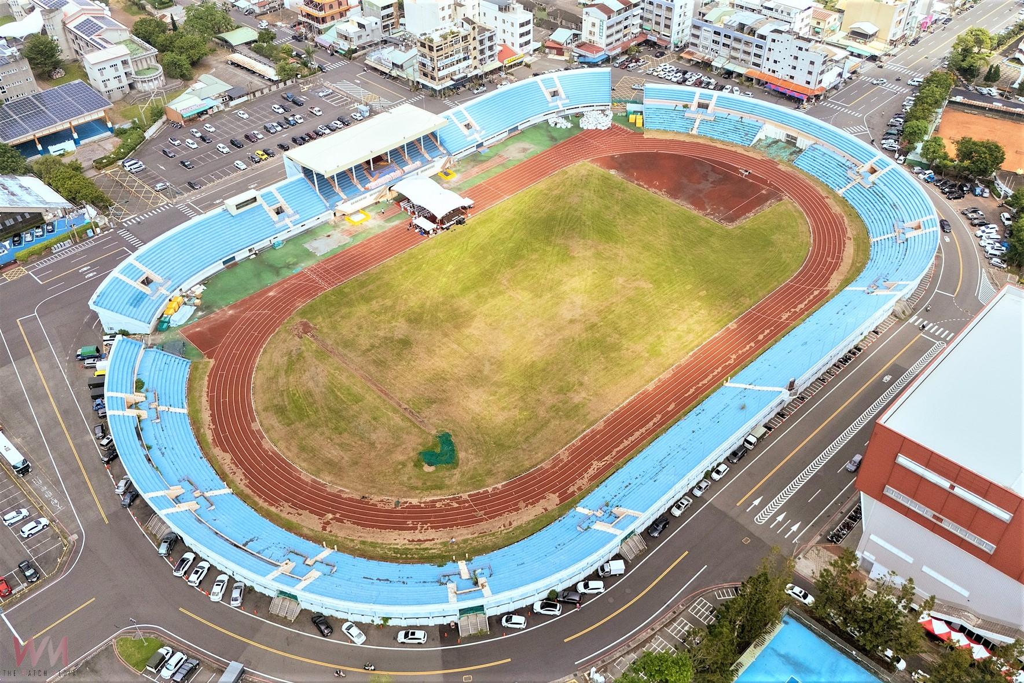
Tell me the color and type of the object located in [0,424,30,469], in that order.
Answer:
white bus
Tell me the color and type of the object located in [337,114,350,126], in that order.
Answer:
gray vehicle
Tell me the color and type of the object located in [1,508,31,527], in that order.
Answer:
white car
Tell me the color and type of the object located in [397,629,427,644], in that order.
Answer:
white car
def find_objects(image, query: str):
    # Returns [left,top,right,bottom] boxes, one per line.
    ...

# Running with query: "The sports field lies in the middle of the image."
[251,153,811,499]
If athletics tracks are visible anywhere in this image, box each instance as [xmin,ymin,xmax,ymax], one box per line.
[200,136,852,543]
